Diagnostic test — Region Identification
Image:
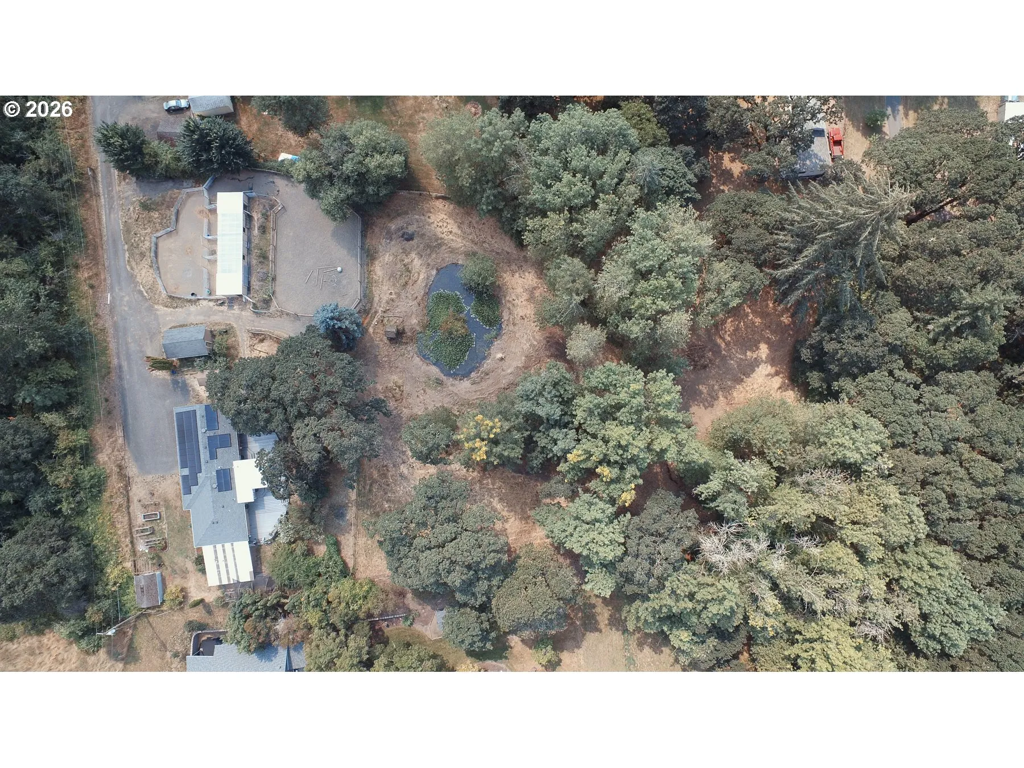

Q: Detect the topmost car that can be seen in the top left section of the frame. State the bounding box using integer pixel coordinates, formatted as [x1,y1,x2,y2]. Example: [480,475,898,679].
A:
[163,98,189,112]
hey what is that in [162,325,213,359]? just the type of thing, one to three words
building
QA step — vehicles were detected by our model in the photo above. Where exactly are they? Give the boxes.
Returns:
[163,98,189,112]
[828,126,844,158]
